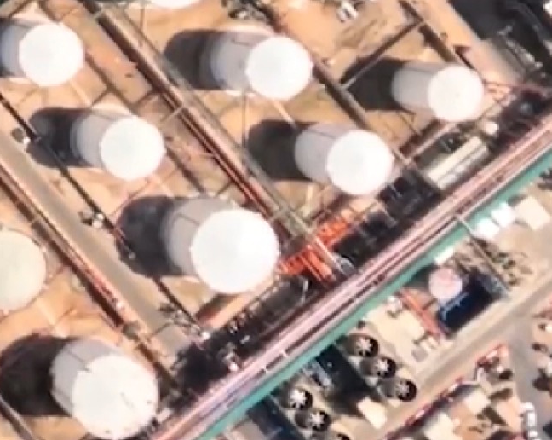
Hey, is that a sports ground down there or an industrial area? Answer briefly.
industrial area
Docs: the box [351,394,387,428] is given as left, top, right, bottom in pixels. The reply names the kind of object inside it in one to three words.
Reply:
building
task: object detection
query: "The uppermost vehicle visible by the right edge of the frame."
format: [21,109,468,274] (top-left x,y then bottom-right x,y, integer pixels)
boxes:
[521,401,536,424]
